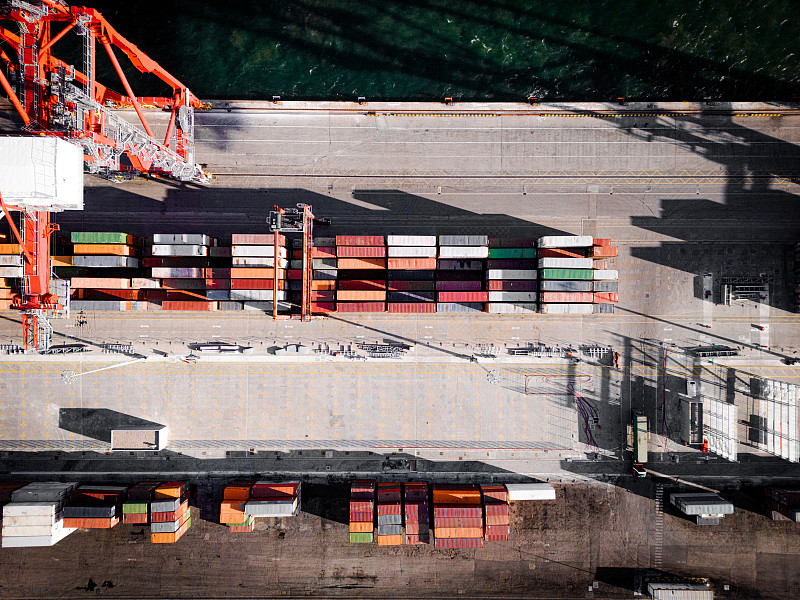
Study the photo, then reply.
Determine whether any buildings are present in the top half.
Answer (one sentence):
No, I see no building in the top half.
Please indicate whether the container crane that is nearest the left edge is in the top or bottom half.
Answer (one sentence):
It is in the top half that the container crane that is nearest the left edge appears.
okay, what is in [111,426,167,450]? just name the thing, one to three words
building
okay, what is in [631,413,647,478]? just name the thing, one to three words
vehicle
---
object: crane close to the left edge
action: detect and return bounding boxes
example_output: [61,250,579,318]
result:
[0,0,215,345]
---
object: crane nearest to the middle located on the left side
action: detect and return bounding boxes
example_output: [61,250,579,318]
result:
[259,197,339,326]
